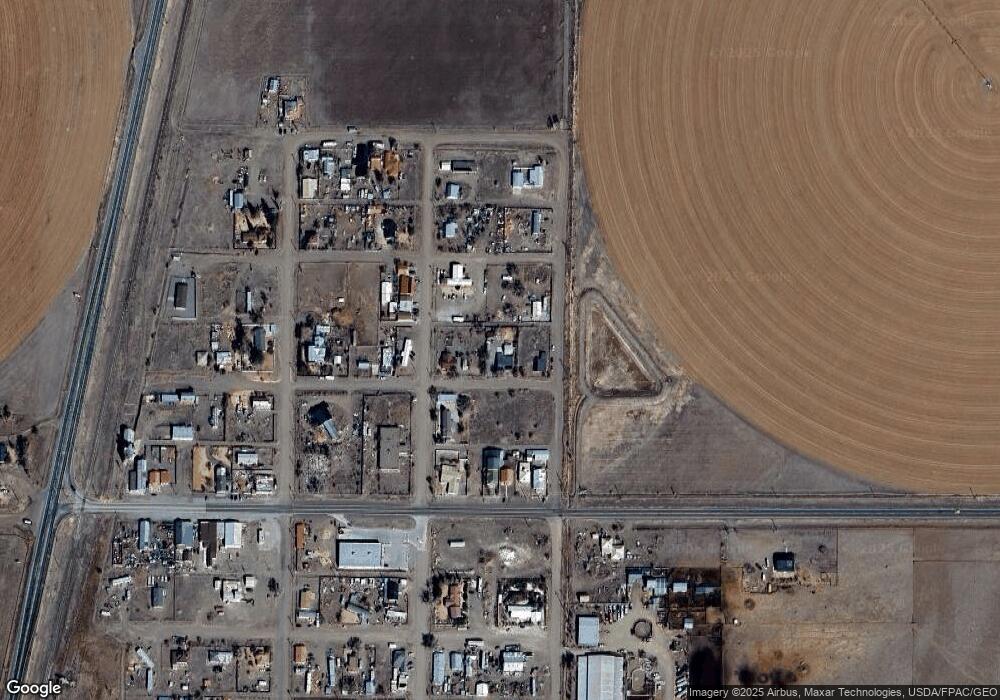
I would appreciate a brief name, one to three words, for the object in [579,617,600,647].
barn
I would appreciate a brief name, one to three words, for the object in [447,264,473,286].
building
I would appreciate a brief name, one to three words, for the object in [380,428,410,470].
shed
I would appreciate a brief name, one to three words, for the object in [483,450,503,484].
house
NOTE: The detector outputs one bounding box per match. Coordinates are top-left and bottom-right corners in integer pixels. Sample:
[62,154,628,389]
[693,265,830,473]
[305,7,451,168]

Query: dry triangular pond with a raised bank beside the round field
[578,291,668,402]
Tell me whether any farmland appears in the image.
Yes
